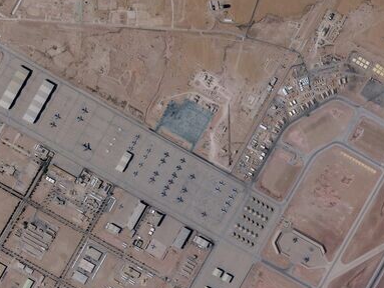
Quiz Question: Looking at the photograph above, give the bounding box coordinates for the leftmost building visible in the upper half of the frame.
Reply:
[0,67,29,108]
